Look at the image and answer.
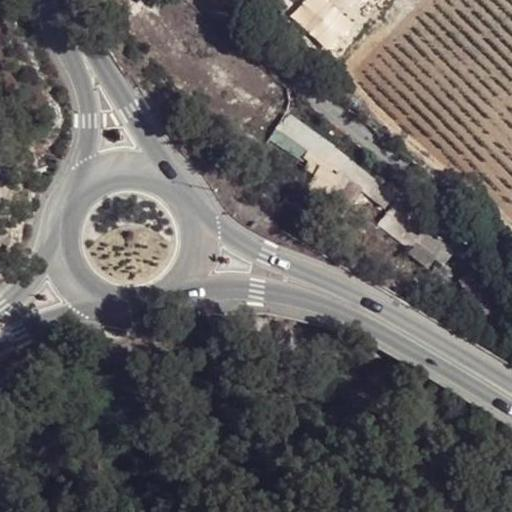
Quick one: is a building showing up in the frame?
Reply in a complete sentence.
Yes, the image includes a building.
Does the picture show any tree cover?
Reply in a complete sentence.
Yes, tree cover shows up in the scene.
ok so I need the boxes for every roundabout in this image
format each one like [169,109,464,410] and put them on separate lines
[44,152,218,326]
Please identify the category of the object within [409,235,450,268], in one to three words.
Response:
building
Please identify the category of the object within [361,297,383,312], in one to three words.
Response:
car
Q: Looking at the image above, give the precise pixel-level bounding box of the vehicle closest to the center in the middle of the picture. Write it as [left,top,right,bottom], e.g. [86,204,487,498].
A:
[268,256,291,271]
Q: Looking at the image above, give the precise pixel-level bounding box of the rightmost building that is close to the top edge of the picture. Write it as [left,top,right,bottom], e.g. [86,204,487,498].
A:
[290,0,372,52]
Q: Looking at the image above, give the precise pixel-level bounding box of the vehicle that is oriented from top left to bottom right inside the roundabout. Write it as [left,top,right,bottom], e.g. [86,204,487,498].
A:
[159,161,176,180]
